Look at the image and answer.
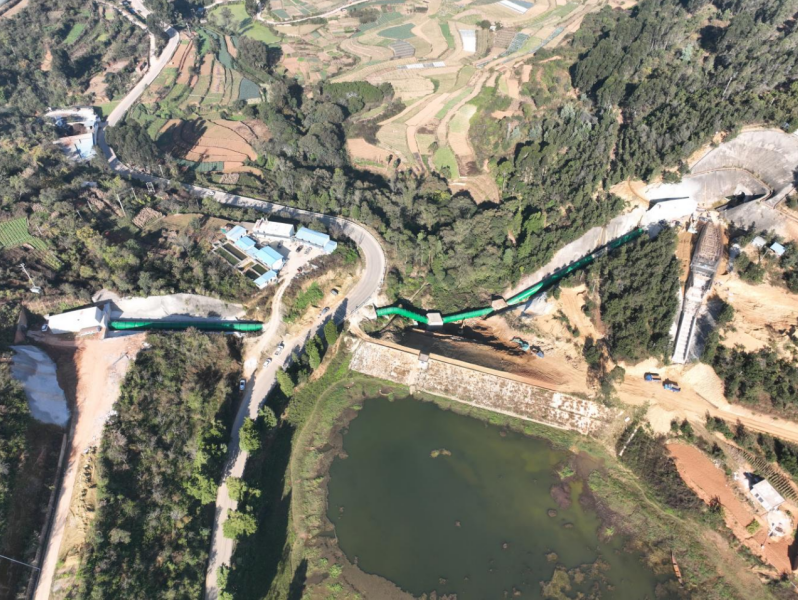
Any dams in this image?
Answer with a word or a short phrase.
Yes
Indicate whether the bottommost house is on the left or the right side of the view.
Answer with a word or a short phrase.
right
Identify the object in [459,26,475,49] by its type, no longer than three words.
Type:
greenhouse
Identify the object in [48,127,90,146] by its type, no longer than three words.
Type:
house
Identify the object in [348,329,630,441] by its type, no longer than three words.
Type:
dam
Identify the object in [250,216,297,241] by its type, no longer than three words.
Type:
house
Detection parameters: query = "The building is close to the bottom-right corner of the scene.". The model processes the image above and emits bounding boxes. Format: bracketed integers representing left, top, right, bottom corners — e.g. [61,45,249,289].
[752,480,791,510]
